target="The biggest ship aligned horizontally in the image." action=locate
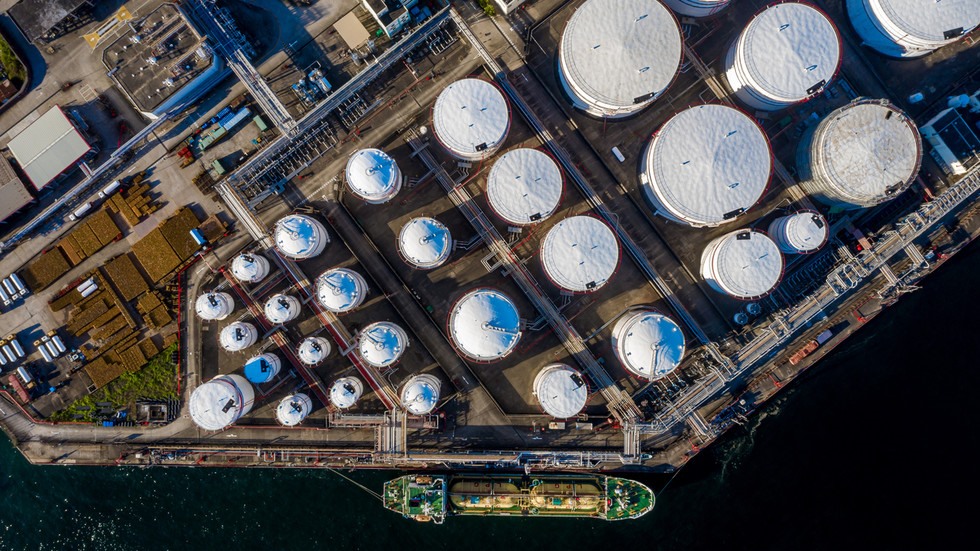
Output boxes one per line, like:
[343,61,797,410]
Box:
[382,474,657,523]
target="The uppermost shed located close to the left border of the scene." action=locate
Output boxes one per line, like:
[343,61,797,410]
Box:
[6,0,97,47]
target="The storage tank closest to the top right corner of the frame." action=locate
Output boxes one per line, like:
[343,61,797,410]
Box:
[843,0,980,64]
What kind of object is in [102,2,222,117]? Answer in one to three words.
building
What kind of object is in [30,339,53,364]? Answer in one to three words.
truck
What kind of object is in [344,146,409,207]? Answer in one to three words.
storage tank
